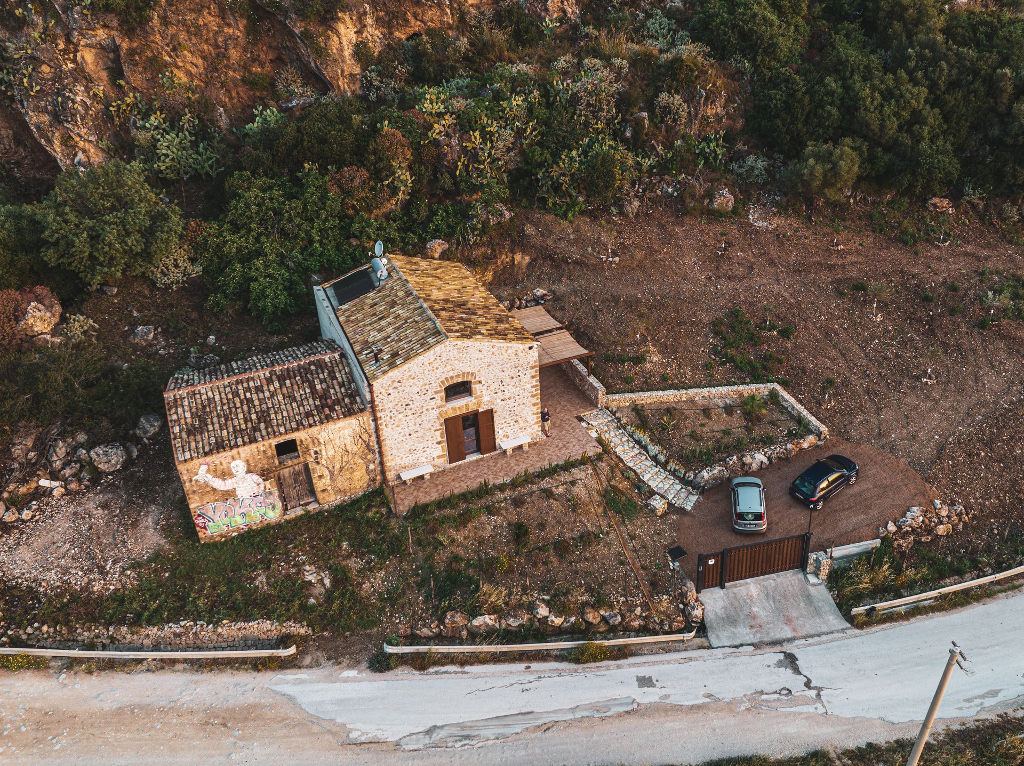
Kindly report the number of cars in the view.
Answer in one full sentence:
Looking from above, you can make out 2 cars.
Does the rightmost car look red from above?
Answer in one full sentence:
No, the color of the rightmost car is black.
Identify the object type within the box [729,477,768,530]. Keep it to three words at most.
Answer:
car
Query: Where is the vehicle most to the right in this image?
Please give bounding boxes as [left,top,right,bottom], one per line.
[789,458,857,510]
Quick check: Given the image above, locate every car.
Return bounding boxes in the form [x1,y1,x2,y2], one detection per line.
[789,458,857,510]
[729,477,768,530]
